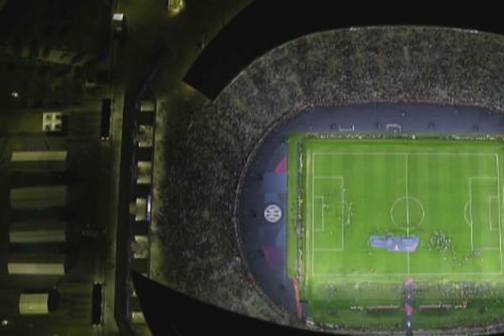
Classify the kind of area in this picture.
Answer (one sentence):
The picture captures a sports ground.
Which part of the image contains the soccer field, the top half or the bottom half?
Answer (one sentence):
The bottom half of the photo is where the soccer field is.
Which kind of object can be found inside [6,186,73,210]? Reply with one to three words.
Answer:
tent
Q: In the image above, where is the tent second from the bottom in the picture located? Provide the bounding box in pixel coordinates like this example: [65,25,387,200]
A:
[4,254,71,275]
